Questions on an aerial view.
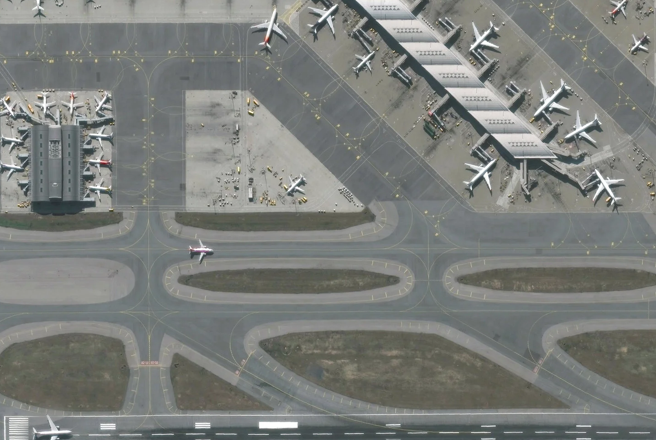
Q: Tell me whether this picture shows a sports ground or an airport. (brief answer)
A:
airport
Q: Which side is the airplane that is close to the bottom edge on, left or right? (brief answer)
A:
left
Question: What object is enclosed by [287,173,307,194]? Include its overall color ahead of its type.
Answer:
white airplane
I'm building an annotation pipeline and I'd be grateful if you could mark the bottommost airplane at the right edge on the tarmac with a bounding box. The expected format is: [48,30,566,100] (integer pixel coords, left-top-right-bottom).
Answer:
[594,169,627,206]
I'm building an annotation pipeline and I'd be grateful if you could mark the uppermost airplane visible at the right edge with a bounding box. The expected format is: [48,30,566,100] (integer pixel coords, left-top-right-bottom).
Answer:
[607,0,627,18]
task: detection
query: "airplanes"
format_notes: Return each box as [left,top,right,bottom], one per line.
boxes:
[0,156,25,178]
[0,129,23,150]
[470,20,499,50]
[351,51,374,72]
[188,238,214,261]
[32,413,71,440]
[95,92,111,113]
[462,159,498,192]
[90,126,114,148]
[594,169,627,206]
[287,173,307,194]
[565,109,603,140]
[89,153,111,173]
[533,78,571,116]
[60,91,82,117]
[630,32,652,52]
[305,4,337,35]
[0,97,14,118]
[89,179,112,199]
[252,9,285,48]
[607,0,627,18]
[35,92,55,116]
